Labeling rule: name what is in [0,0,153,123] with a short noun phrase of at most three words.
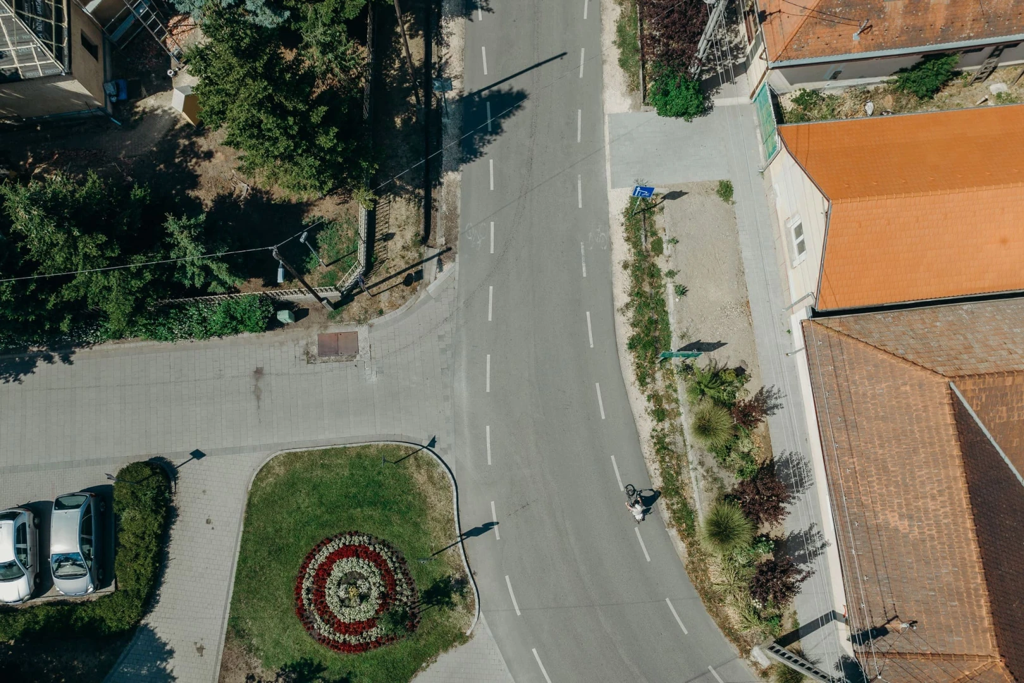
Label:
house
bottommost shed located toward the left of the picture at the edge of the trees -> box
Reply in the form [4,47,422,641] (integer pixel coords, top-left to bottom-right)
[170,84,208,125]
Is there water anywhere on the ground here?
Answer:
No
